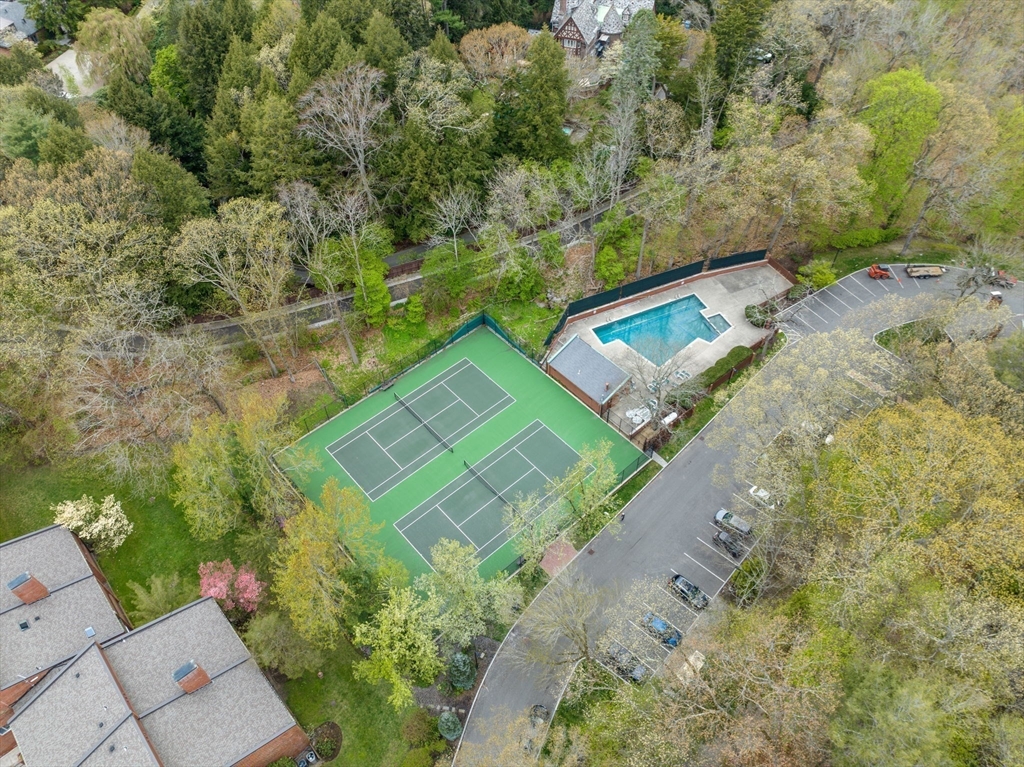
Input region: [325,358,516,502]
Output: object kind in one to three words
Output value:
tennis court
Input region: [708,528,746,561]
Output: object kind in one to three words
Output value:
car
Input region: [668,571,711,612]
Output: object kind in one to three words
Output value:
car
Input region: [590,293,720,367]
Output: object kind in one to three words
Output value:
swimming pool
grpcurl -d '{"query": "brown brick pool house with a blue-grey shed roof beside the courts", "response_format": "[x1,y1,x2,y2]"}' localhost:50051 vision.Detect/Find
[544,335,635,413]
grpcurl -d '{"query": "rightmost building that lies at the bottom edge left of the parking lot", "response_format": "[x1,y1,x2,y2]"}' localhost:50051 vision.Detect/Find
[99,599,310,767]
